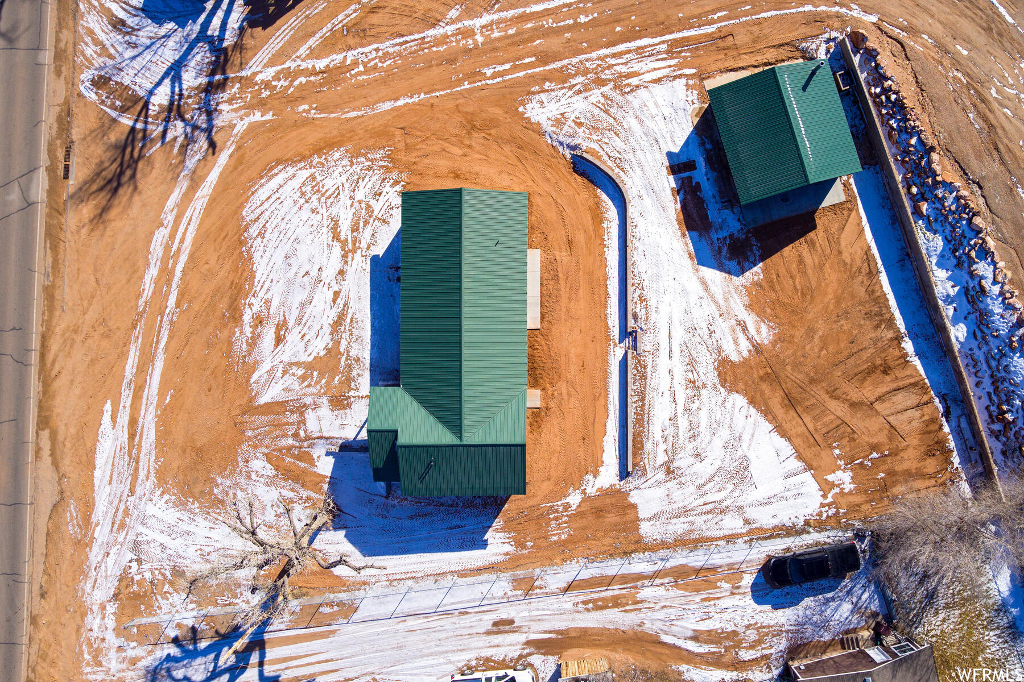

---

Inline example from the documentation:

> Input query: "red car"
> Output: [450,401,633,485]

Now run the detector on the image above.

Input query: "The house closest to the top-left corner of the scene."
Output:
[364,185,530,496]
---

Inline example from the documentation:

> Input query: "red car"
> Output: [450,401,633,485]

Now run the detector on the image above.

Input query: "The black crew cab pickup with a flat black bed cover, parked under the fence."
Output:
[761,540,862,592]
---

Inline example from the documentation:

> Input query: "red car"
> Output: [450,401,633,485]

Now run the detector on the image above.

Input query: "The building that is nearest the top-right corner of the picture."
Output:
[705,55,861,208]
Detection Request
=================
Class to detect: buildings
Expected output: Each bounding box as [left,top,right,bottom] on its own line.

[560,657,612,682]
[705,55,861,208]
[364,185,530,496]
[784,631,942,682]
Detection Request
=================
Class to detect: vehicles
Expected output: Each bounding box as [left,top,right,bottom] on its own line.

[447,664,539,682]
[761,540,862,592]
